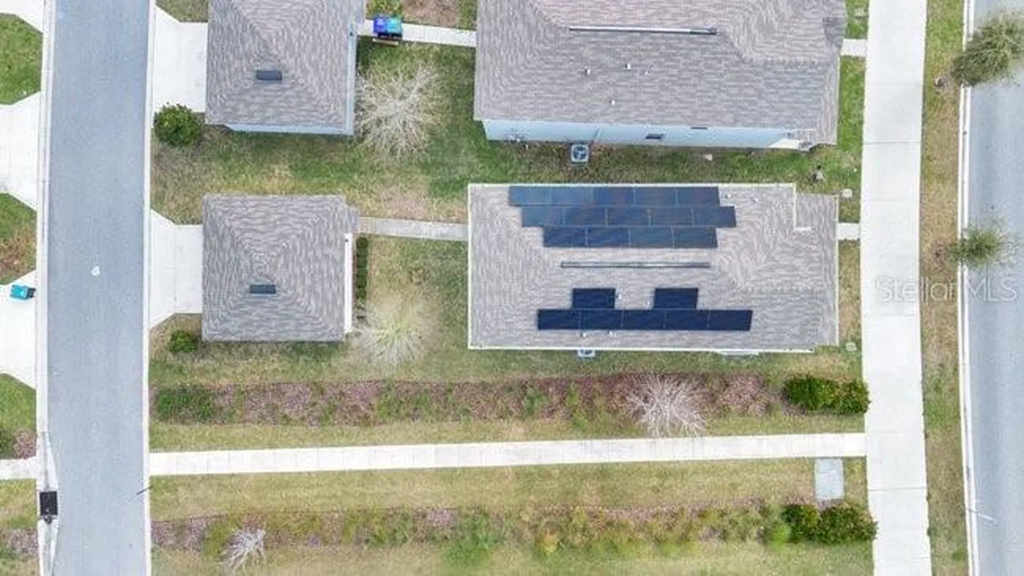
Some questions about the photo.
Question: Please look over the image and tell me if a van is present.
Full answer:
No, I can see no van in this picture.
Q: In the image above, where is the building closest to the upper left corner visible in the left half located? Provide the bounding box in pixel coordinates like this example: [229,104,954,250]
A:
[206,0,369,133]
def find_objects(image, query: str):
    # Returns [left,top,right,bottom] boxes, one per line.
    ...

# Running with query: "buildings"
[474,0,860,153]
[206,0,369,133]
[466,182,840,356]
[202,193,360,342]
